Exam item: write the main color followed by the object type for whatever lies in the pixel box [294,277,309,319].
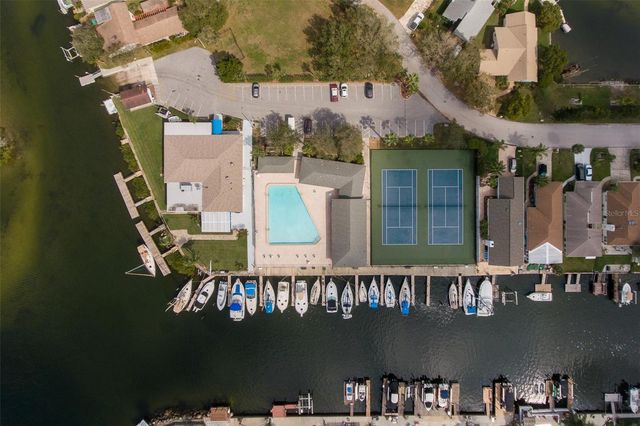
white boat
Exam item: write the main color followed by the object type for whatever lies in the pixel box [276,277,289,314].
white boat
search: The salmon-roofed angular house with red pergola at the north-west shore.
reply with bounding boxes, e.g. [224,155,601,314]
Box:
[94,0,188,56]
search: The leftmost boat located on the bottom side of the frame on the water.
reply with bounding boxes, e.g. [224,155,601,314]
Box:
[130,244,156,279]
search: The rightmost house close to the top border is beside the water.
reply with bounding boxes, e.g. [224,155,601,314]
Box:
[478,11,537,84]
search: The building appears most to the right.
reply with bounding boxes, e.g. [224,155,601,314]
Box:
[603,182,640,245]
